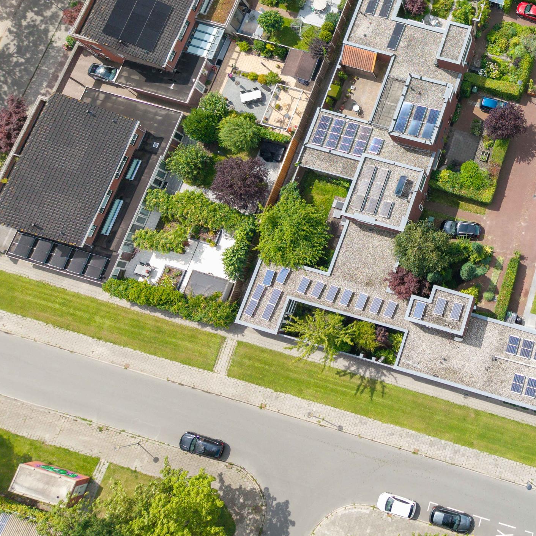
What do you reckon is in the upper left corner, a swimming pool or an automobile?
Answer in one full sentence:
There is an automobile in the upper left corner.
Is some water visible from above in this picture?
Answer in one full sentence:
No, there's no water in this view.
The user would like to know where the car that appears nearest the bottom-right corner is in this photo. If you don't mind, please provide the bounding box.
[427,506,474,534]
